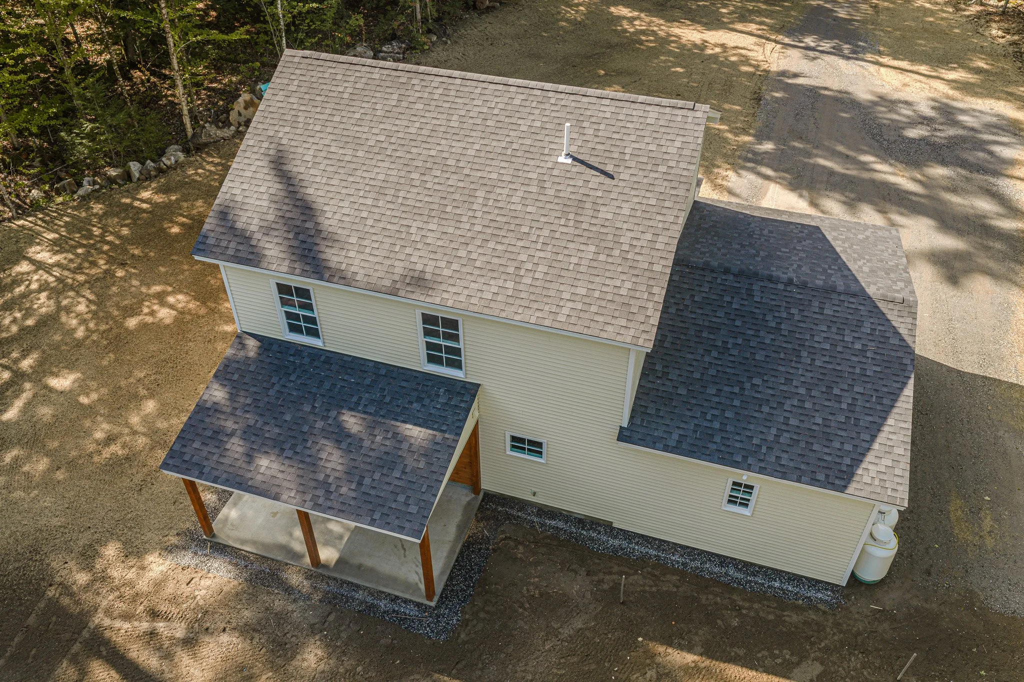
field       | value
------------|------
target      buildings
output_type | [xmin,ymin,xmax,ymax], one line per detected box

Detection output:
[159,48,918,609]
